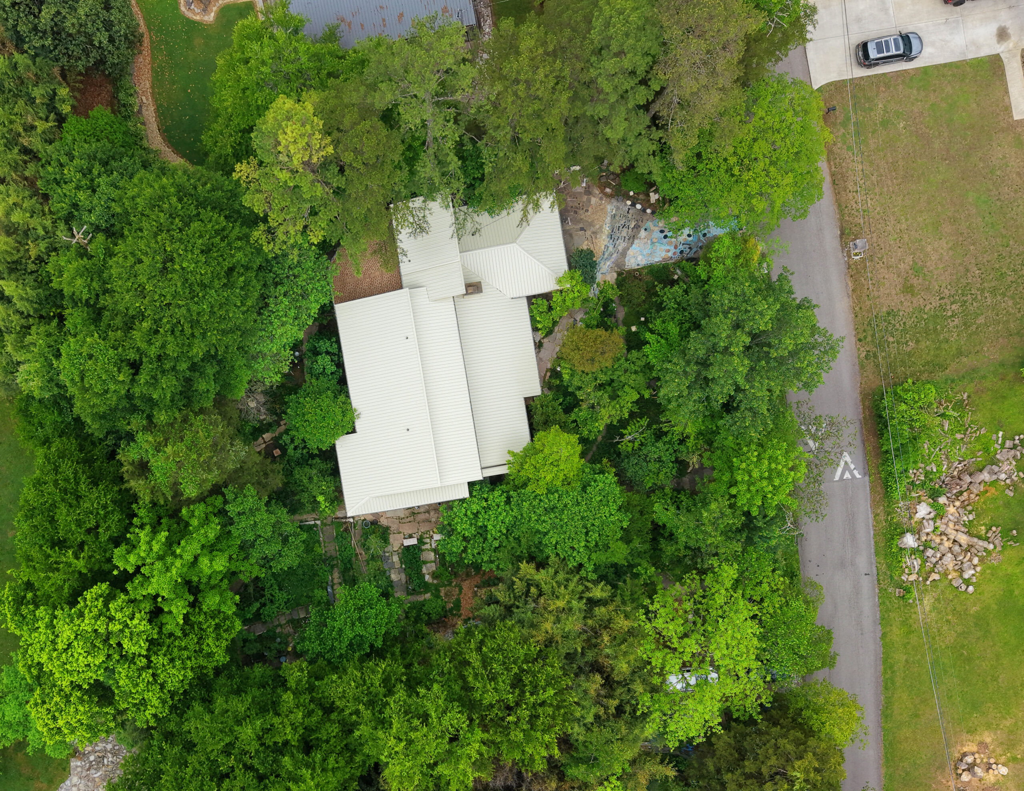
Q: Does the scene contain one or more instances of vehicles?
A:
Yes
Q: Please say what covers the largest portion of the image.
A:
trees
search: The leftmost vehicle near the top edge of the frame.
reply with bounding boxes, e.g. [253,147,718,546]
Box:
[853,26,925,70]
